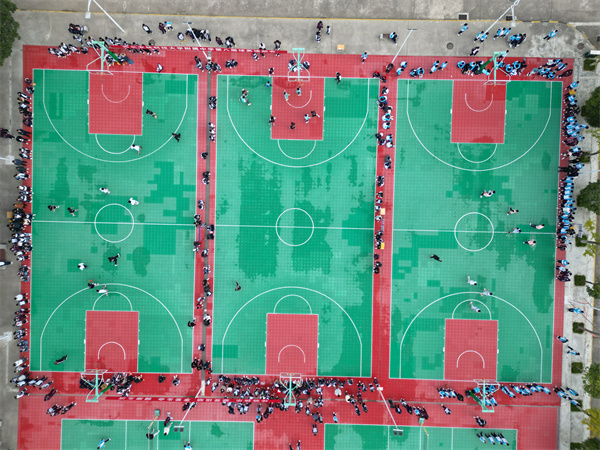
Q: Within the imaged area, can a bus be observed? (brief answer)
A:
No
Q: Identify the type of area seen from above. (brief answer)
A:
sports ground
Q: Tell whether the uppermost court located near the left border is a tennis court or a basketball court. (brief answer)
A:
basketball court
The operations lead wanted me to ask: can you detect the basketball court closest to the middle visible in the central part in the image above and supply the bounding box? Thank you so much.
[212,75,380,377]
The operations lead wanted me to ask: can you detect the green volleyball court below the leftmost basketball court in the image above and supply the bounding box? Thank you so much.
[60,418,254,450]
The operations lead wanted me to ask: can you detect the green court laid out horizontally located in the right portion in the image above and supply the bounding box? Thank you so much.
[324,424,517,450]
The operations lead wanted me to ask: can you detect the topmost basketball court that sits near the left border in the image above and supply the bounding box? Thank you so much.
[30,69,197,373]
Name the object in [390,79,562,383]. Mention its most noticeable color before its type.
green basketball court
